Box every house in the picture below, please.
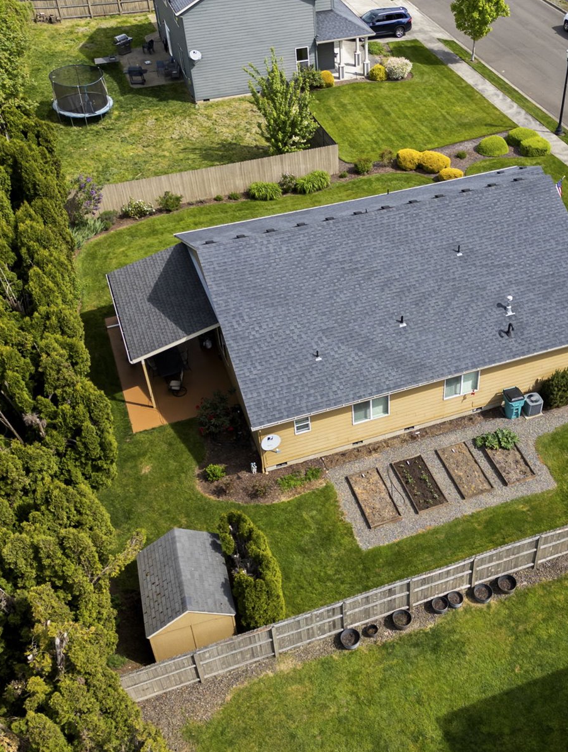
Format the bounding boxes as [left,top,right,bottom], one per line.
[106,167,568,477]
[151,0,377,101]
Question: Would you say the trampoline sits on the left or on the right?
left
